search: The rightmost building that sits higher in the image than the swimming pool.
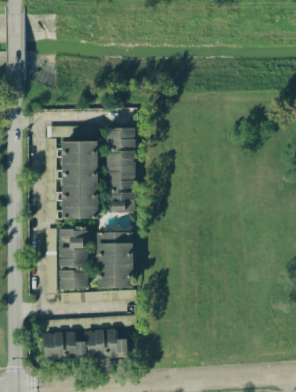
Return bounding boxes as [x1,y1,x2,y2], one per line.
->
[107,128,136,212]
